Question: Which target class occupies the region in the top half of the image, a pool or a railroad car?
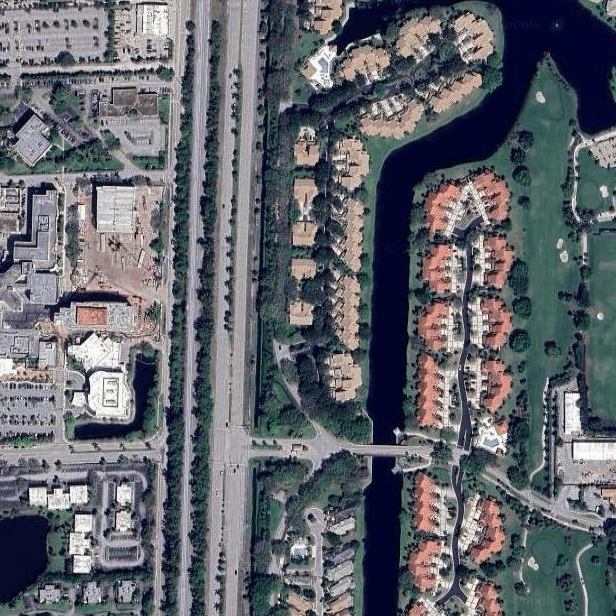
pool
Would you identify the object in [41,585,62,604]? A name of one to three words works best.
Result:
house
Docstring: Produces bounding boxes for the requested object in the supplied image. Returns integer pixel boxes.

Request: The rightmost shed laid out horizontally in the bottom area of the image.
[574,442,616,461]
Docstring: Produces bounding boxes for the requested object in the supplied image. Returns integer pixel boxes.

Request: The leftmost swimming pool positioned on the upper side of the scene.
[309,46,337,86]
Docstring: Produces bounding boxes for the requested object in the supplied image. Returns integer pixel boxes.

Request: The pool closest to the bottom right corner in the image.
[476,417,507,451]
